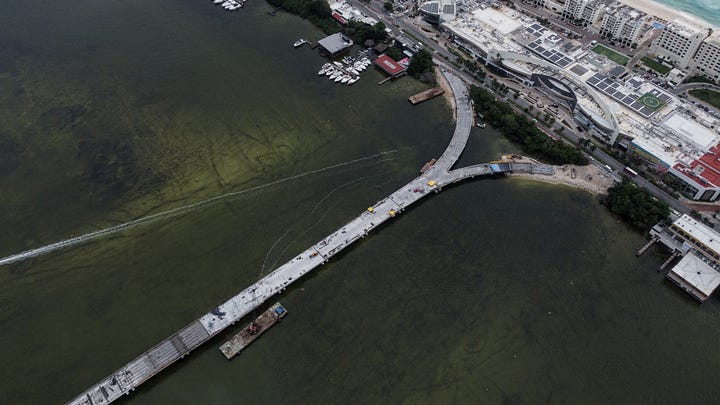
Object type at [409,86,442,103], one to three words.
ship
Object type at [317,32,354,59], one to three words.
building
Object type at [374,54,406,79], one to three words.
building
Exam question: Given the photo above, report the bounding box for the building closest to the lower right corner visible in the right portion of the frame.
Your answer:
[660,254,720,311]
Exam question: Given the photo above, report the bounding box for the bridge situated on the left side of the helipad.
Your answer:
[63,70,555,405]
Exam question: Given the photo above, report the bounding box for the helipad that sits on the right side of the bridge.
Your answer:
[635,92,667,113]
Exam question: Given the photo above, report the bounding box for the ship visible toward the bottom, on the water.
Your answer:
[219,302,288,359]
